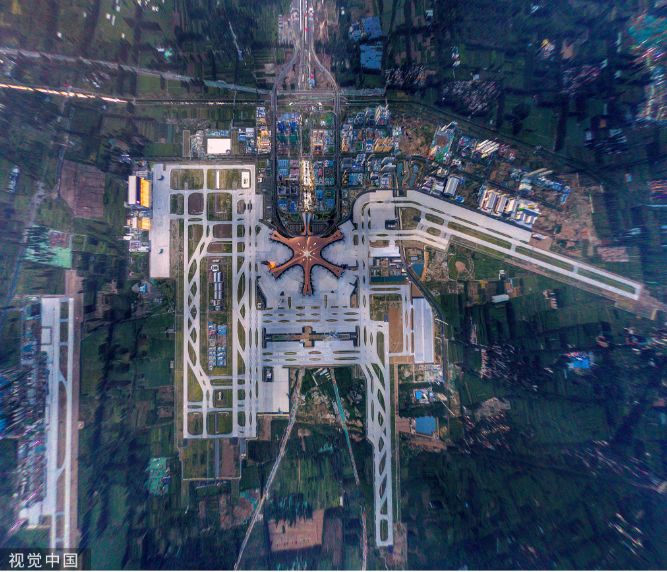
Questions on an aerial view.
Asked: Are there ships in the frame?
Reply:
No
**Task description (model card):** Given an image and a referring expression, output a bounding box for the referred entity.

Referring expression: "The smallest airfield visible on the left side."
[19,298,73,550]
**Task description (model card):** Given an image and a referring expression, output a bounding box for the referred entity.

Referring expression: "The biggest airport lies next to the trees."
[149,164,640,546]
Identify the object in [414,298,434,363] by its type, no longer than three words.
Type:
hangar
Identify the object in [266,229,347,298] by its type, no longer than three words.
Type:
building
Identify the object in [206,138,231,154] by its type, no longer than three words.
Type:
hangar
